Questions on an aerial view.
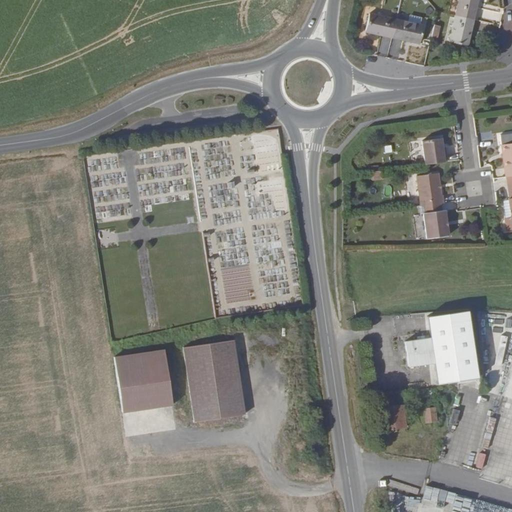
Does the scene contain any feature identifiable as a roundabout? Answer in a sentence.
Yes, the frame does contain a roundabout.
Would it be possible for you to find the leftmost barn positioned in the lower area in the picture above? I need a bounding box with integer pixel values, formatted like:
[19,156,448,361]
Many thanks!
[114,350,173,412]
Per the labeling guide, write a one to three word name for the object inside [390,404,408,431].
house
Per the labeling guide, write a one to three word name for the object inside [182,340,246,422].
barn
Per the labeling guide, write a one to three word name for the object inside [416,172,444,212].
house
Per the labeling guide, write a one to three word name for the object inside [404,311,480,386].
building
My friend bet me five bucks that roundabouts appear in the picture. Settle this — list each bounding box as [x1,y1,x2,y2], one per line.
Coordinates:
[262,37,354,129]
